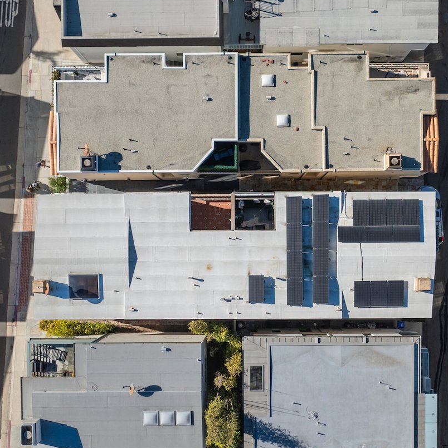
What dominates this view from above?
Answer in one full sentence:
What you mostly see from above here is buildings.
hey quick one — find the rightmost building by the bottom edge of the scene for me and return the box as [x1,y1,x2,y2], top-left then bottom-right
[242,330,437,448]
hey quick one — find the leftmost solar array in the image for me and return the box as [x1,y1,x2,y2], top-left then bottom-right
[246,276,267,303]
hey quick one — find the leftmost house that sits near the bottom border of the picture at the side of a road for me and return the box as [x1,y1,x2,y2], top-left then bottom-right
[21,335,207,448]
